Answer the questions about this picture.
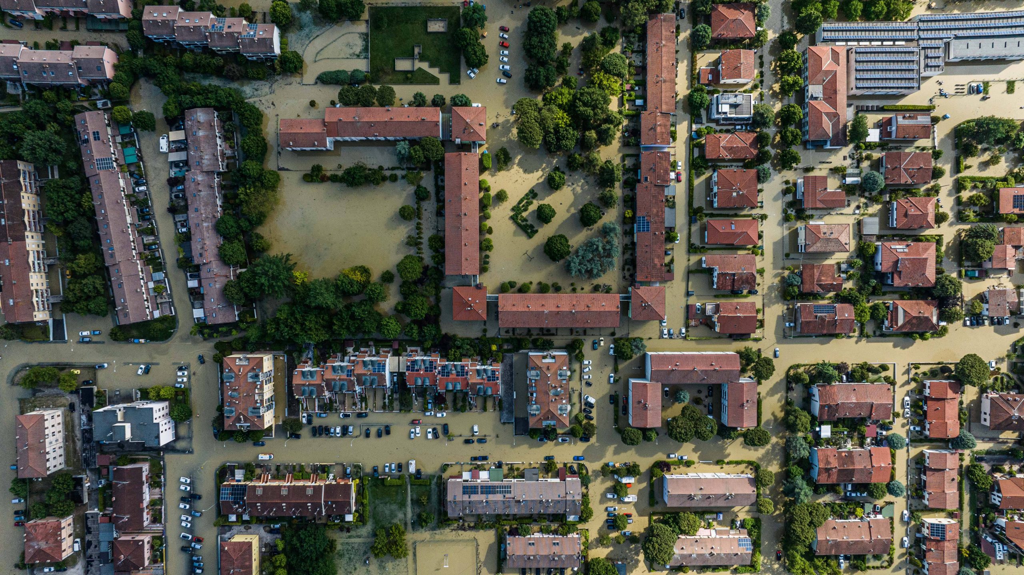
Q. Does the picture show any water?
Yes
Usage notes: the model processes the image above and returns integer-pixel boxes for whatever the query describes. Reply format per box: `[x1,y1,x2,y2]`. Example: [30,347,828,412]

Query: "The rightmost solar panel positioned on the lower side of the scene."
[928,522,947,540]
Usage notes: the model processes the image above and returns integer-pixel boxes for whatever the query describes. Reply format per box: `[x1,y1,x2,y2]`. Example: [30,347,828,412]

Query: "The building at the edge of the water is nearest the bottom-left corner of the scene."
[23,516,75,564]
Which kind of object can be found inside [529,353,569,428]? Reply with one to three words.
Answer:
building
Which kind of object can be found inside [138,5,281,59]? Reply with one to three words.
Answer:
house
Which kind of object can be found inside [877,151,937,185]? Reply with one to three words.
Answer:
house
